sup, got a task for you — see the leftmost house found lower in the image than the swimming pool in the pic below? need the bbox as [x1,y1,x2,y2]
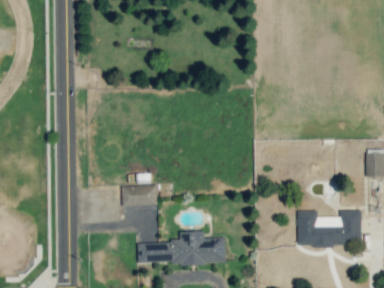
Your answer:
[137,231,225,266]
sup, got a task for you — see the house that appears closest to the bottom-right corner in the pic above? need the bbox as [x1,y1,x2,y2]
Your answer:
[296,210,361,248]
